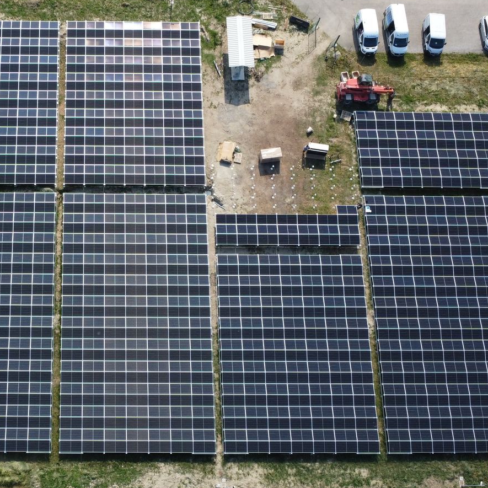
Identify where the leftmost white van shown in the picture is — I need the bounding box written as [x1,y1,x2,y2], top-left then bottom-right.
[354,6,384,57]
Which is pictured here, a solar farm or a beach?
solar farm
